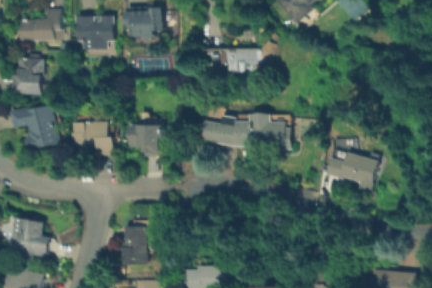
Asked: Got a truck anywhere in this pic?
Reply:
No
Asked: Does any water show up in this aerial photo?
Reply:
No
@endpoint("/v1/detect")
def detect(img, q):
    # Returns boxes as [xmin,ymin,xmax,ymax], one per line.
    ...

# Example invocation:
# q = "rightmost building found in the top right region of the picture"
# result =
[339,0,370,22]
